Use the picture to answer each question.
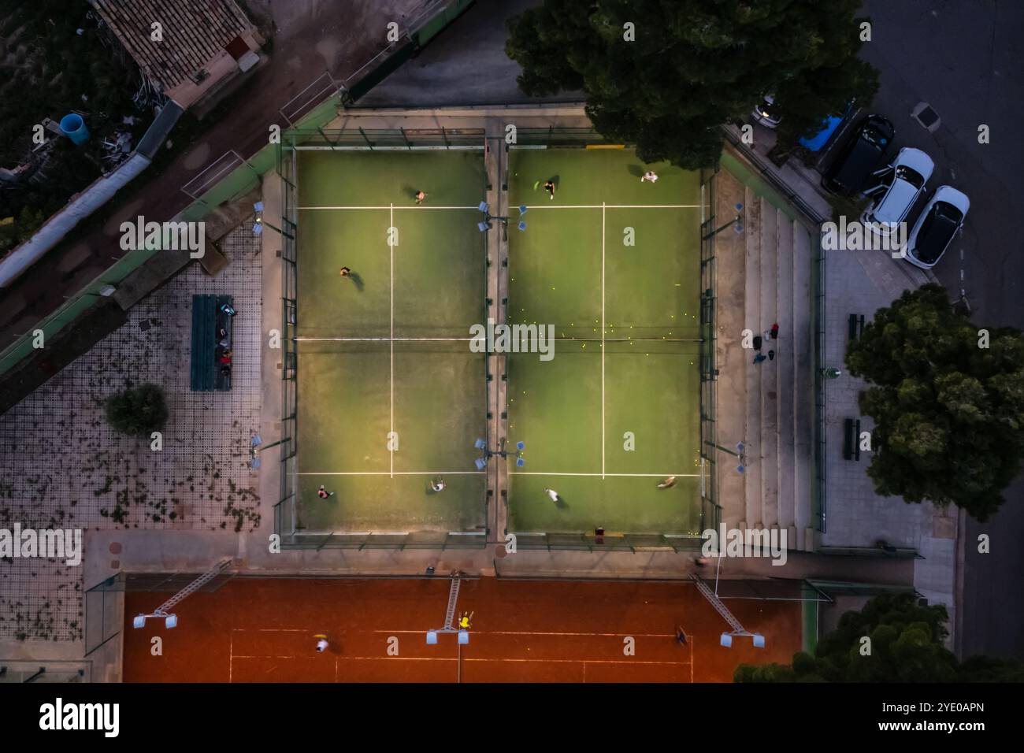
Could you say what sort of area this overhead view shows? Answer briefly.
sports ground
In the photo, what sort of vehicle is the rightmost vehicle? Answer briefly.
car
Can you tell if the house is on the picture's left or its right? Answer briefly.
left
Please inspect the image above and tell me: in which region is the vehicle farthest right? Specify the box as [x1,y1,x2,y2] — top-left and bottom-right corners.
[902,185,969,271]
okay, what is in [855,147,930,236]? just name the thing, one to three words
car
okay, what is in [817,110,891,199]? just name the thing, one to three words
car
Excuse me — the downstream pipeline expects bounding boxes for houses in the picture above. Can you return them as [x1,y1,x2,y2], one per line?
[97,0,274,108]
